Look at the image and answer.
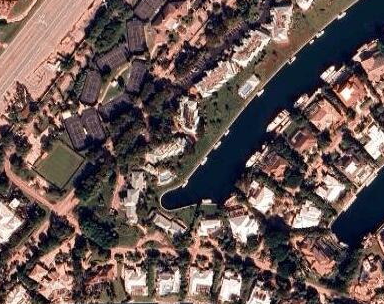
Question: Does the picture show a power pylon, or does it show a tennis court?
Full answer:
There is a tennis court in the scene.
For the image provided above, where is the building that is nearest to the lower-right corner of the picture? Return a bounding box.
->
[344,259,383,302]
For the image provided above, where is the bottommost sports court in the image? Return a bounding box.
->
[32,140,85,188]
